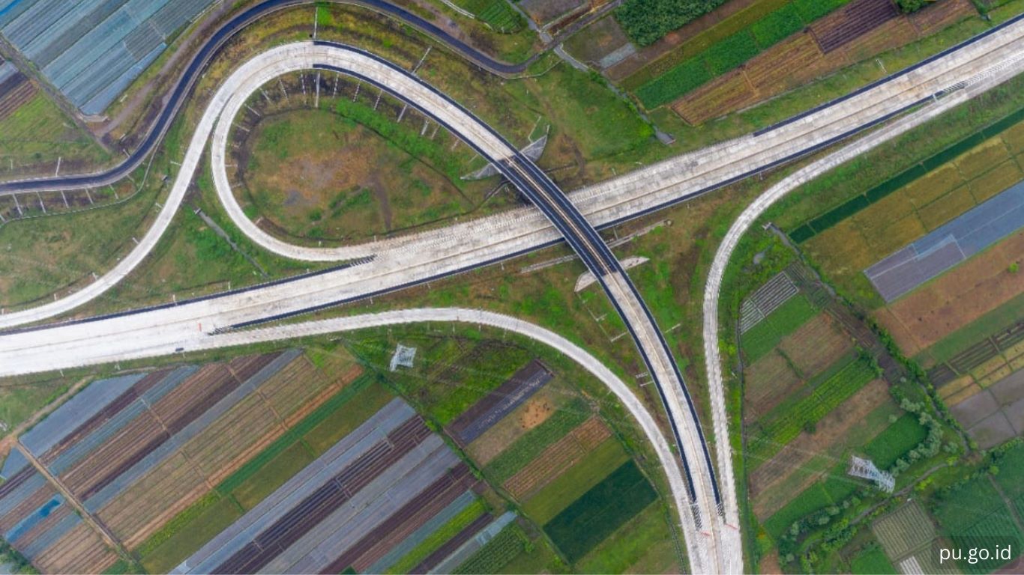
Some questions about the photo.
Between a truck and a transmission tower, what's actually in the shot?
transmission tower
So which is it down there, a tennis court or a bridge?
bridge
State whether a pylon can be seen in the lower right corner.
Yes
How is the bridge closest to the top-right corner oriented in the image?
at an angle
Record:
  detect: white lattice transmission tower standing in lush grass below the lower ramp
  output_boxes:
[392,343,418,371]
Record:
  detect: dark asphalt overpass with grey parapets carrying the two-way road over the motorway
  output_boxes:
[460,135,649,293]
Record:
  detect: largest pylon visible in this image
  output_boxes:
[847,454,898,493]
